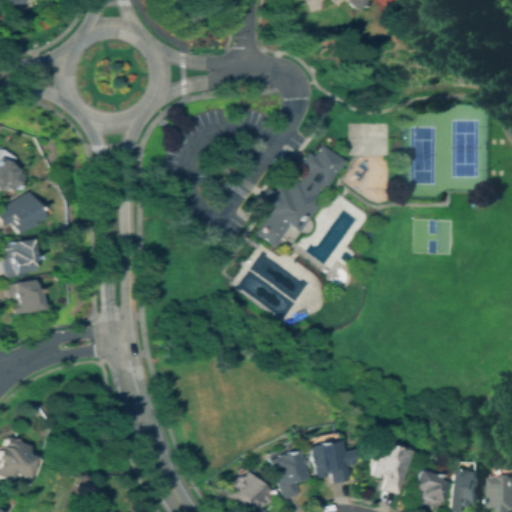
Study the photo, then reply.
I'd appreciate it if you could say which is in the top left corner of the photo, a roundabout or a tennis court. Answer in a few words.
roundabout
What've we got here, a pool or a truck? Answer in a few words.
pool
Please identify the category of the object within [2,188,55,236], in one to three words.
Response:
house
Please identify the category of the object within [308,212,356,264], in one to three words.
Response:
swimming pool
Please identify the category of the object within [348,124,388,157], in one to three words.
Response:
sports court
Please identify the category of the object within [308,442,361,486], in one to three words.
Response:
house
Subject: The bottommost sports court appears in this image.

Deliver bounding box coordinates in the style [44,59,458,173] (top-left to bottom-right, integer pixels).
[412,218,452,255]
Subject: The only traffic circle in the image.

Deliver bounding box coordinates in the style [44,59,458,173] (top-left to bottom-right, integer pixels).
[56,18,170,132]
